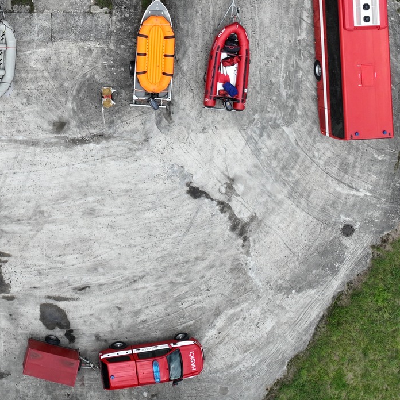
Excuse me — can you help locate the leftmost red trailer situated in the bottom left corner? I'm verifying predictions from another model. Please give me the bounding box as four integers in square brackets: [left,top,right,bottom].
[22,339,97,387]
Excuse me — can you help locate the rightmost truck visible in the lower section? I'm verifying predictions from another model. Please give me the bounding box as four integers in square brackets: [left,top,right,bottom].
[93,330,206,389]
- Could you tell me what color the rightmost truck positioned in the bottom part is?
red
